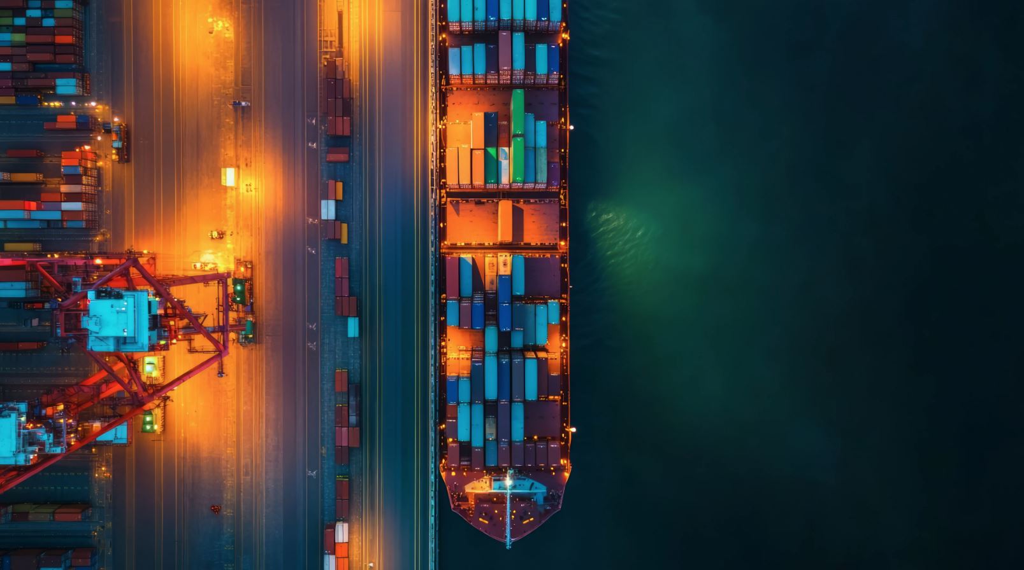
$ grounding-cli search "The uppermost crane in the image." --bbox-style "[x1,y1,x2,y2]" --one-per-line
[0,250,254,410]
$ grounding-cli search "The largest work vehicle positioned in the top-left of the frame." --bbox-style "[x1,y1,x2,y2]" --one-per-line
[112,121,138,165]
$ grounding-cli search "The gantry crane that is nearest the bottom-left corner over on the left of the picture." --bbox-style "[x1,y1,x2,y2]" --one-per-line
[0,352,162,496]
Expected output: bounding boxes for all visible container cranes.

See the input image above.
[0,250,254,410]
[0,352,162,496]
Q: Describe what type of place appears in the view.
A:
port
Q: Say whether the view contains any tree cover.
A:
No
